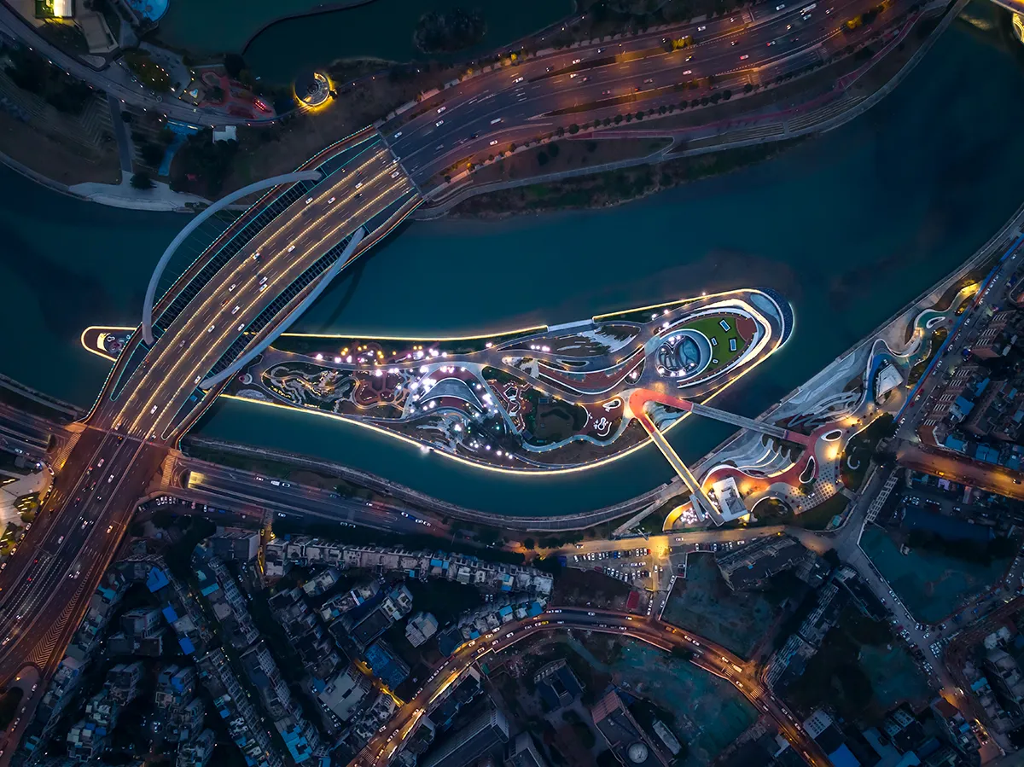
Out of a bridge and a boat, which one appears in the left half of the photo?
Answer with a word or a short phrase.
bridge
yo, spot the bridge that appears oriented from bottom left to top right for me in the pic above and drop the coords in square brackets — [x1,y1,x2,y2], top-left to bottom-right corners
[80,124,425,451]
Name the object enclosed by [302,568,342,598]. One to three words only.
building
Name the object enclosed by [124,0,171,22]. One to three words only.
swimming pool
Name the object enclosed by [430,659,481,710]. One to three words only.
building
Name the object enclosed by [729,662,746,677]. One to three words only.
vehicle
